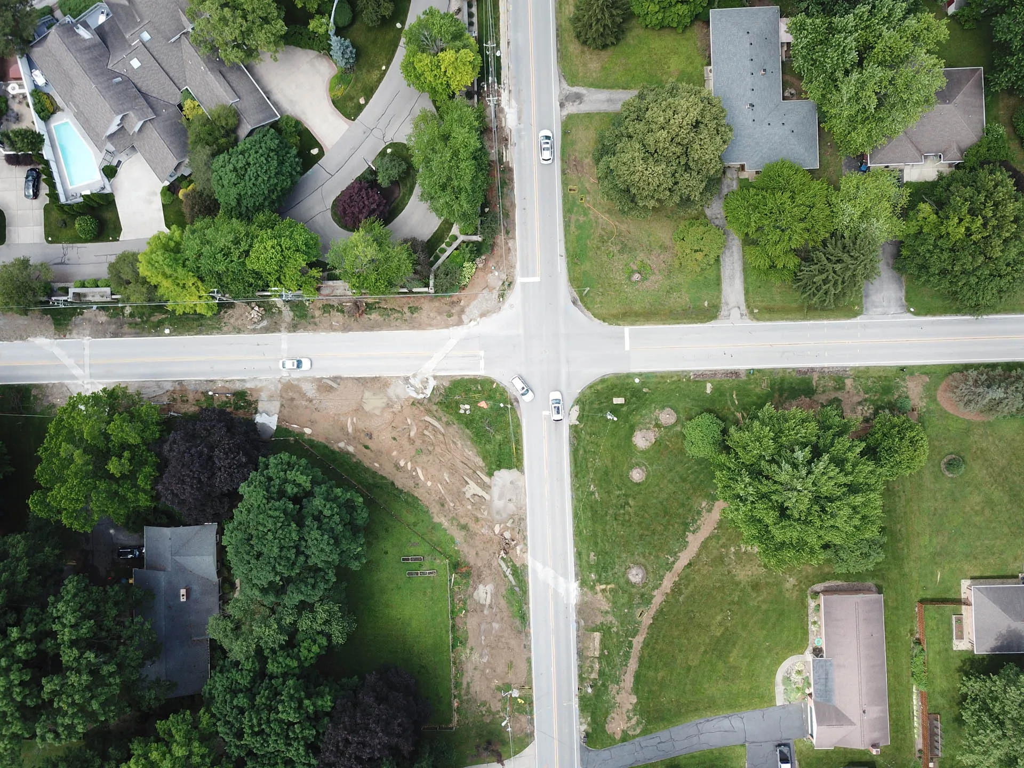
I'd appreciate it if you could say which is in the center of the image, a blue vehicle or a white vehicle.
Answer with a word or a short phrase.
white vehicle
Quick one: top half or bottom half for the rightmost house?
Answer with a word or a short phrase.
bottom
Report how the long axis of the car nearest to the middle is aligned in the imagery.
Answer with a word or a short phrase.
at an angle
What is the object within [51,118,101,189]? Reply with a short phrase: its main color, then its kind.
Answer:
white swimming pool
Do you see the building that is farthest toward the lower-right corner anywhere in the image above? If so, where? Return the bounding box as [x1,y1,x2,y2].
[965,584,1024,654]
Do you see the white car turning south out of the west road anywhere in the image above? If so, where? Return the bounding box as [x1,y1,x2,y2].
[509,372,536,404]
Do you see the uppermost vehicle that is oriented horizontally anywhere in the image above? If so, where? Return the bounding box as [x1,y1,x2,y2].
[280,356,312,372]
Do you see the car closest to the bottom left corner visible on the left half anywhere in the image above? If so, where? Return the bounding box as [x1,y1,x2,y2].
[116,545,144,561]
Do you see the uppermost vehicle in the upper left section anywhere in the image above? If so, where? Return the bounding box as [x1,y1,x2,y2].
[22,167,43,200]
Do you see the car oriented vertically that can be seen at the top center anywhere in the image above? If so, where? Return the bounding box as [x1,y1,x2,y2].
[538,130,554,164]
